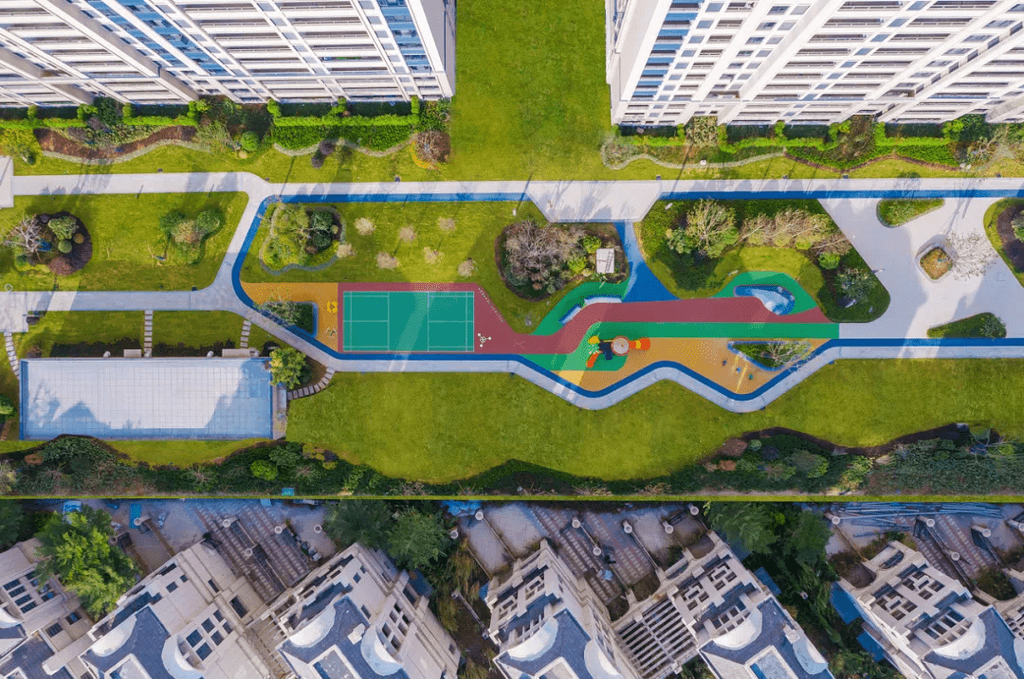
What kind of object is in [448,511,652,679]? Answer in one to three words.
house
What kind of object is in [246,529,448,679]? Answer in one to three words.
house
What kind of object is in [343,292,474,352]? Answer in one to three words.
sports court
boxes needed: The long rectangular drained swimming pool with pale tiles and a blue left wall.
[18,357,274,442]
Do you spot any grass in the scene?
Yes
